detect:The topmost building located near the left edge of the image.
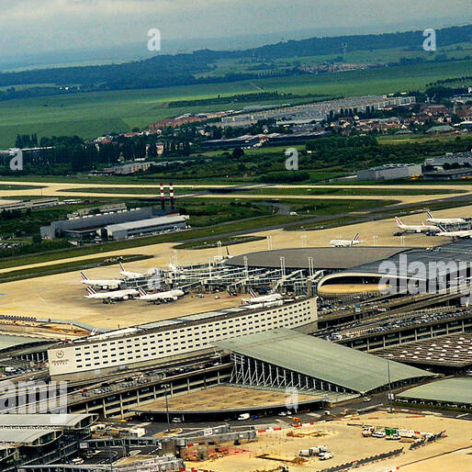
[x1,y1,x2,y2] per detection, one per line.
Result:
[0,140,63,157]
